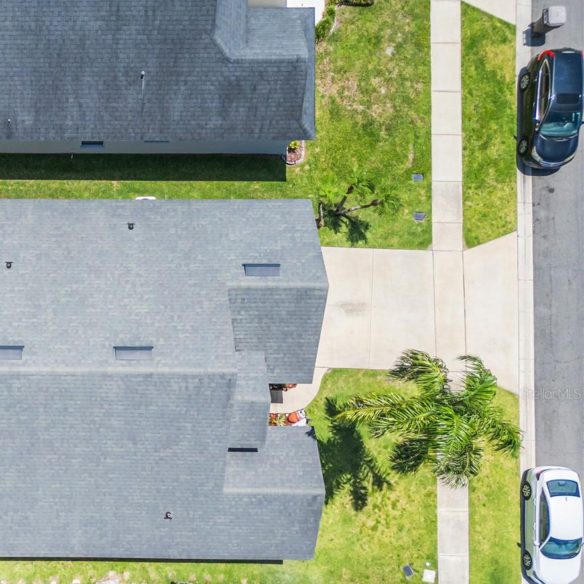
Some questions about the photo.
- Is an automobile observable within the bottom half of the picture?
Yes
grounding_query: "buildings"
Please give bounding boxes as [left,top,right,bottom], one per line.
[0,0,317,154]
[0,198,332,559]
